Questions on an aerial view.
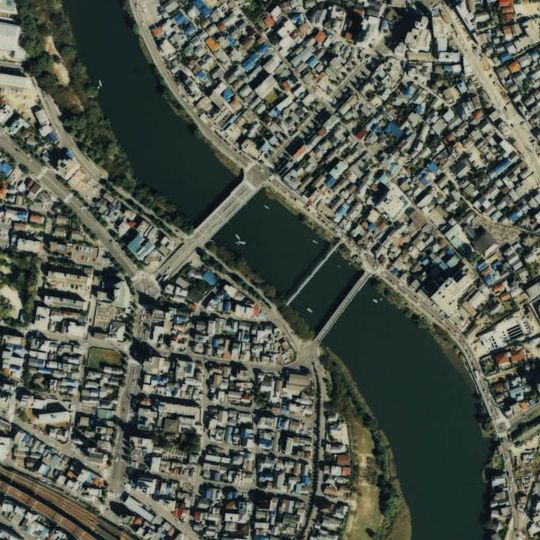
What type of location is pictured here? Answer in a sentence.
This looks like a residential area.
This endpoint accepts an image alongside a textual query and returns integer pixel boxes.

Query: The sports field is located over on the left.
[86,346,121,369]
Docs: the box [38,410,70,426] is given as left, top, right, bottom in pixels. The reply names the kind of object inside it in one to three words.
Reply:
building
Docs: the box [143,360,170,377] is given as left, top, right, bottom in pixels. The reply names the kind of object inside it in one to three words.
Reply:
building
